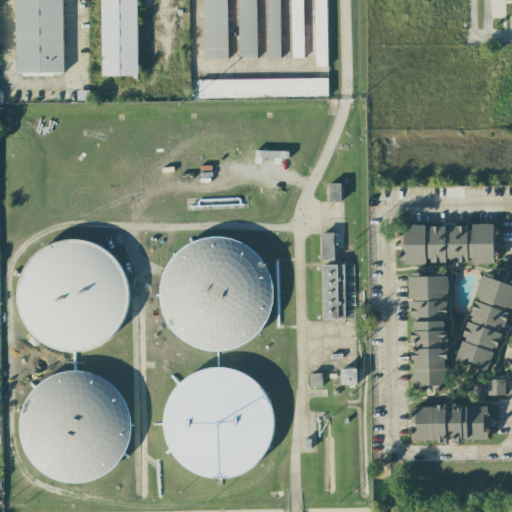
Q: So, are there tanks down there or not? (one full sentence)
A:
Yes, there's a tank here.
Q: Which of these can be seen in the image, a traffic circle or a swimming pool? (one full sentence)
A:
There is a swimming pool in the scene.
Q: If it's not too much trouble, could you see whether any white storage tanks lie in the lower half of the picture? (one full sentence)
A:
Yes, a white storage tank appears in the lower half of the picture.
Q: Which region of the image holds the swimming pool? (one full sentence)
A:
You can find the swimming pool in the right area of the picture.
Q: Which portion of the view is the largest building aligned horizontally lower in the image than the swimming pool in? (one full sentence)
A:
The largest building aligned horizontally lower in the image than the swimming pool sits in the bottom right section of the image.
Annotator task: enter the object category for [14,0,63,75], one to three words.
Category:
building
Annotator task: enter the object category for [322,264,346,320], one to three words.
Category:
building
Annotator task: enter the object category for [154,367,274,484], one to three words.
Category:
storage tank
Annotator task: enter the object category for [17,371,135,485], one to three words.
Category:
storage tank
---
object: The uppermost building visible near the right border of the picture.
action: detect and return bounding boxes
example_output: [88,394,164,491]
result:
[404,224,497,264]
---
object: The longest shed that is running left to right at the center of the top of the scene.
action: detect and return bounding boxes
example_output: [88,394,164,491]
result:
[198,78,330,97]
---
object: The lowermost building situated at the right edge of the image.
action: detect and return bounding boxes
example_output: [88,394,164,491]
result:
[412,406,490,444]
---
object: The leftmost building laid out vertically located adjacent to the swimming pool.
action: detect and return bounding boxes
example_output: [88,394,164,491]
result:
[410,276,450,388]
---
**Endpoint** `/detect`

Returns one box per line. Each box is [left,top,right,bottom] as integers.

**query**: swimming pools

[454,268,482,314]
